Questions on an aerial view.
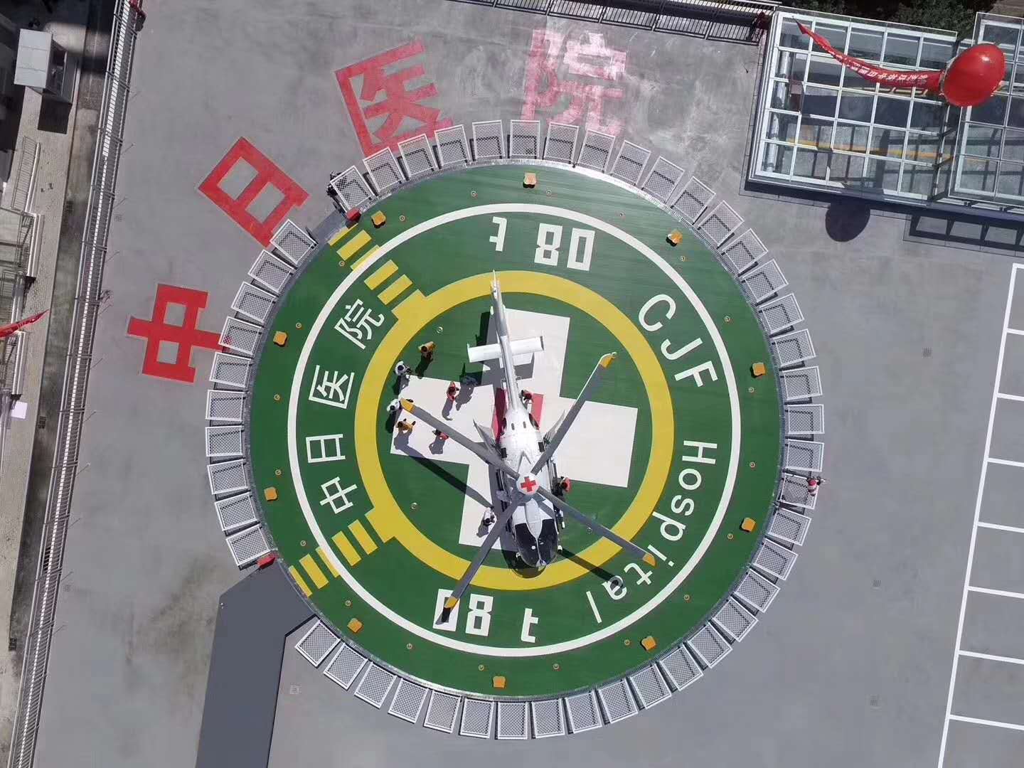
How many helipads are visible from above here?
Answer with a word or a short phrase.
1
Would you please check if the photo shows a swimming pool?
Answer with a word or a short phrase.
No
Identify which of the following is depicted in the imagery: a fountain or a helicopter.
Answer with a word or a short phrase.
helicopter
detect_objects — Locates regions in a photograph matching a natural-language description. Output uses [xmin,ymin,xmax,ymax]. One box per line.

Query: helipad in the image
[240,154,790,705]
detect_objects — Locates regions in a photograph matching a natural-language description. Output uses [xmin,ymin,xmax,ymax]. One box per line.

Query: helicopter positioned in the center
[403,273,653,608]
